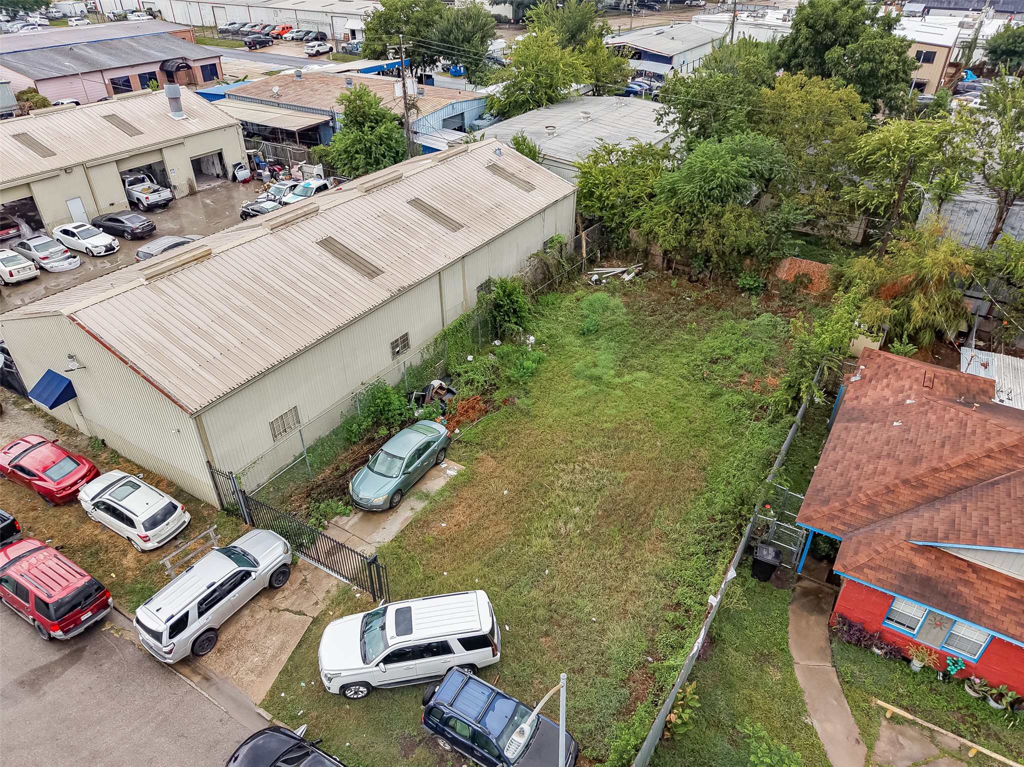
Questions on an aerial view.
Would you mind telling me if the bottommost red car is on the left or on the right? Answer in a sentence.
It is on the left.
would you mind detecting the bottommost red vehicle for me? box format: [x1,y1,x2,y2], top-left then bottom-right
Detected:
[0,536,110,643]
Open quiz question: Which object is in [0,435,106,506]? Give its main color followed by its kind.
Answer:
red car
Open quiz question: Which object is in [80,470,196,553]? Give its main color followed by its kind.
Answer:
white car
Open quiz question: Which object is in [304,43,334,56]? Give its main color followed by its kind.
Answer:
white vehicle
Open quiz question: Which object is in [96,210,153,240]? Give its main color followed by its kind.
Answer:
gray car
